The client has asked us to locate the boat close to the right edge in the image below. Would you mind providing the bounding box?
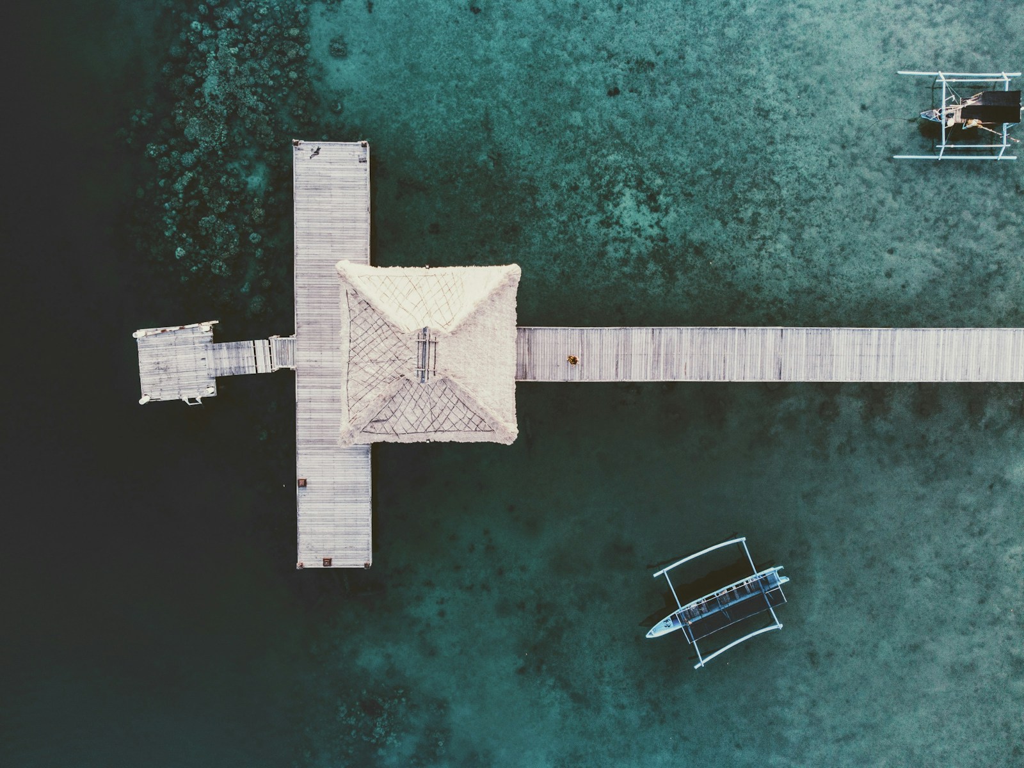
[893,71,1024,160]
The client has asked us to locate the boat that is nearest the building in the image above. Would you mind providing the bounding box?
[643,537,789,669]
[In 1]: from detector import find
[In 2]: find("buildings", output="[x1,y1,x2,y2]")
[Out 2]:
[334,258,523,449]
